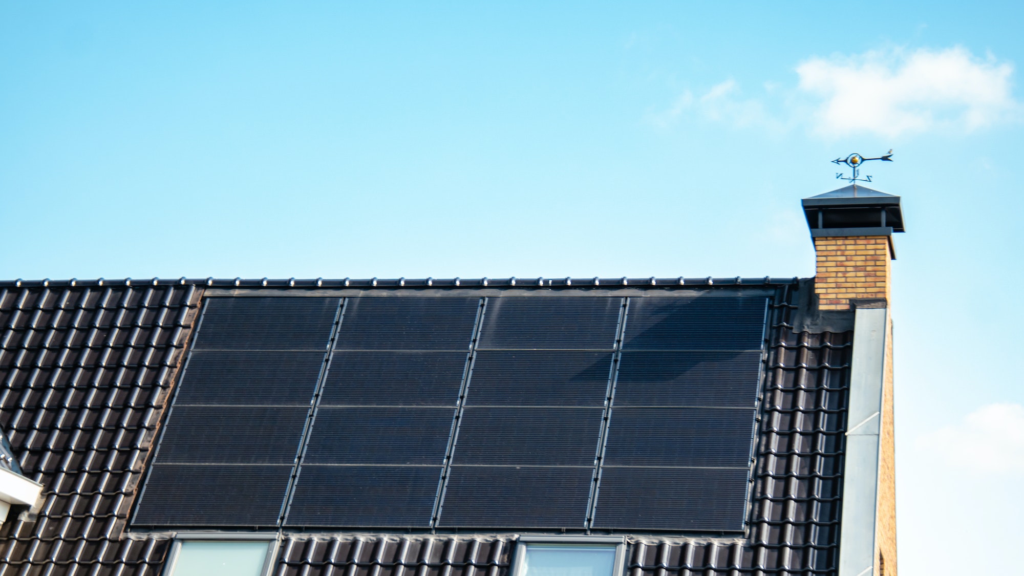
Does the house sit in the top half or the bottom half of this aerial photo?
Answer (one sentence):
You can find the house in the bottom half.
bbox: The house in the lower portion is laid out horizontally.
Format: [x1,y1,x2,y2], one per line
[0,183,903,576]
